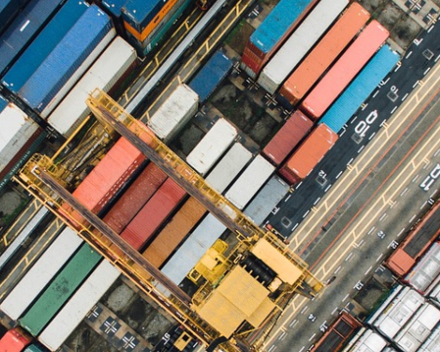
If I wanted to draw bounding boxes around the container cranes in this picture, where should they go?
[14,79,332,352]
